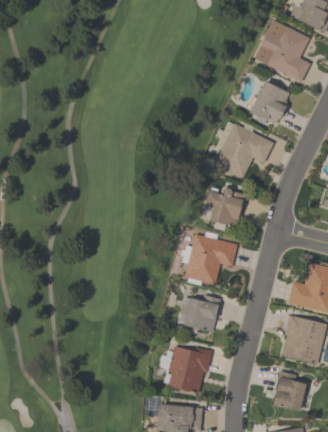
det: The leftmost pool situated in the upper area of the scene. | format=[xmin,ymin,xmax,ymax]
[240,79,256,102]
